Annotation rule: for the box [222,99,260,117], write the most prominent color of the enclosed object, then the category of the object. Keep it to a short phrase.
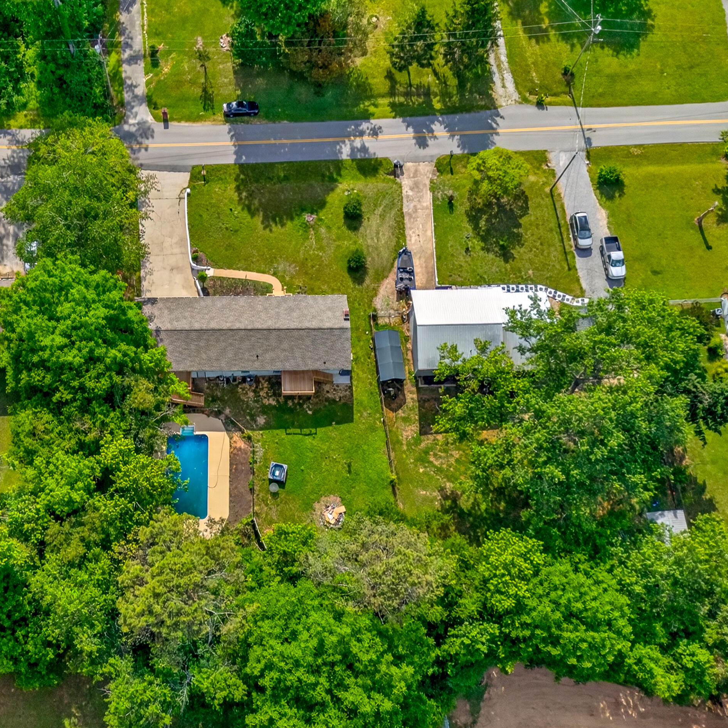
black car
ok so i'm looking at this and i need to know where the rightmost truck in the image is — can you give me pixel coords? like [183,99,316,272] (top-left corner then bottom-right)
[597,236,628,281]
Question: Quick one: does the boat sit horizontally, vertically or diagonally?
vertically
